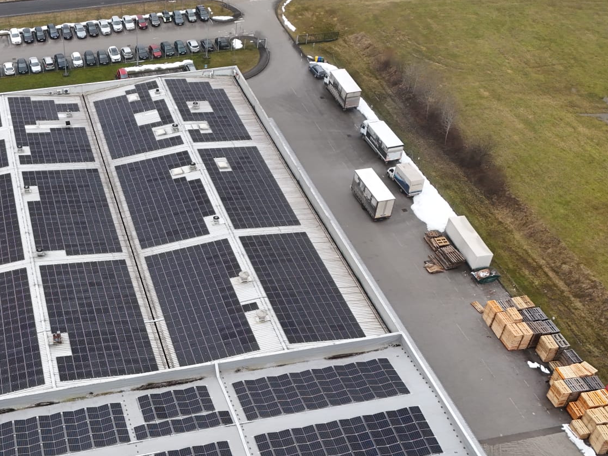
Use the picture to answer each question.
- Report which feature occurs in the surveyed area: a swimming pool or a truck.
truck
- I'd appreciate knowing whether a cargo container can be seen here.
Yes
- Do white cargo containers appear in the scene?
Yes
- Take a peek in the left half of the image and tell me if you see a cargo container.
No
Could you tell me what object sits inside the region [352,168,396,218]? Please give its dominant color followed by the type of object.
white truck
